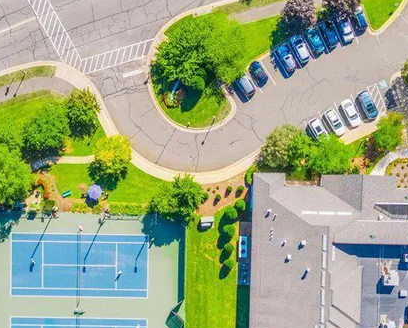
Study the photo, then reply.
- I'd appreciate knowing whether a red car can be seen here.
No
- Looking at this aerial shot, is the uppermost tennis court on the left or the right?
left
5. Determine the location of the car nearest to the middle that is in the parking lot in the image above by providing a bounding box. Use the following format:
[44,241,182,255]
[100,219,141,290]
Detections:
[234,71,257,101]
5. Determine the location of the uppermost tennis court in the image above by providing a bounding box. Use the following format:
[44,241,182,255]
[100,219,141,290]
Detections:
[0,213,185,307]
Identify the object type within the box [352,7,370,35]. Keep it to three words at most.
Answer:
car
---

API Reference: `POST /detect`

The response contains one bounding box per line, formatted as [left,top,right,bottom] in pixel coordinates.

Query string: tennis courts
[0,307,185,328]
[0,213,185,307]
